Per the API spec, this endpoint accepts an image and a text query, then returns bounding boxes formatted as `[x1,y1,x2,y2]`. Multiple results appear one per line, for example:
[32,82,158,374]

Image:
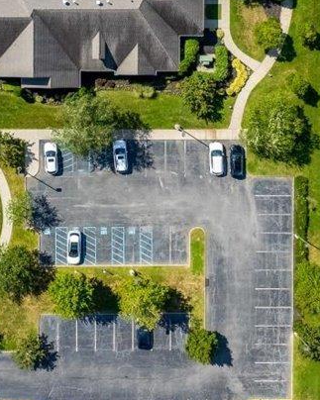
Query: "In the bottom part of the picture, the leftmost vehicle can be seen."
[67,231,82,263]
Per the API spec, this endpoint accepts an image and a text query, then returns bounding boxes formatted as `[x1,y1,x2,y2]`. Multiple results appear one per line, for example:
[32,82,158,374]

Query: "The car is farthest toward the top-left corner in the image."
[43,140,57,174]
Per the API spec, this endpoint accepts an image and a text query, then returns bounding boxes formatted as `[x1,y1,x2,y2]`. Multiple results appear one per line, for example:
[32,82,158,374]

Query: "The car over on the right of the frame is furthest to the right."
[230,145,243,177]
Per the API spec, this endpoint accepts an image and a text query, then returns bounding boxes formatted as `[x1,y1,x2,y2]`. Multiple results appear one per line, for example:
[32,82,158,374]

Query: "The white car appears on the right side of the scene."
[210,143,223,175]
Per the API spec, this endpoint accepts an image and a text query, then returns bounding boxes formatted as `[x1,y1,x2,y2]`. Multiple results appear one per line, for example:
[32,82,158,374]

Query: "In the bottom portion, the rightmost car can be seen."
[137,320,152,352]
